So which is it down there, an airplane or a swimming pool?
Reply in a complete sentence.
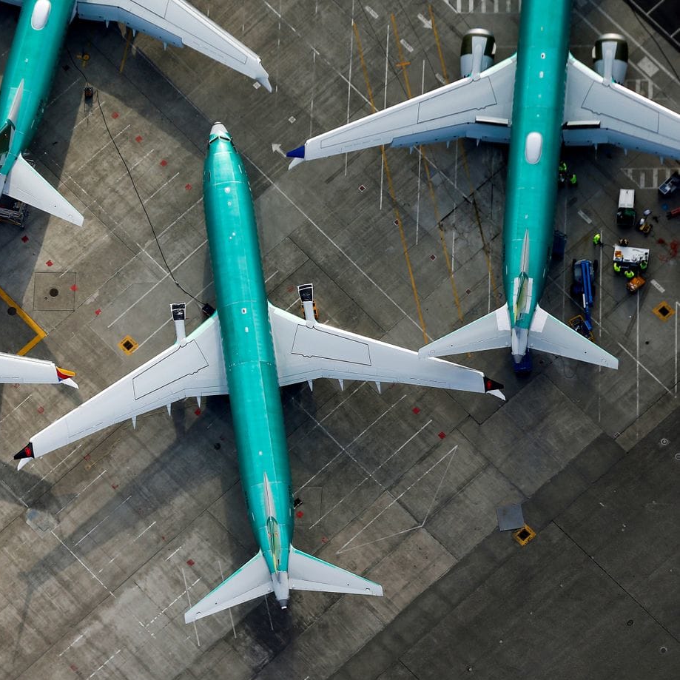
I can see an airplane in this picture.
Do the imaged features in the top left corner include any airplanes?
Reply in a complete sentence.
Yes, an airplane can be seen in the top left corner.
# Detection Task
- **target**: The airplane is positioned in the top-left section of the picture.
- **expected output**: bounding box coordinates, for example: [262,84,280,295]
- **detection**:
[0,0,269,222]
